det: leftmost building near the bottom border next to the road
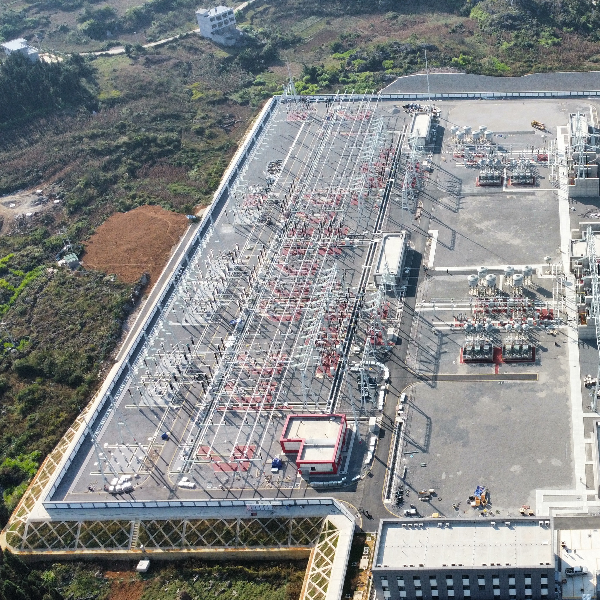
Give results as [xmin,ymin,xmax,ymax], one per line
[373,517,555,600]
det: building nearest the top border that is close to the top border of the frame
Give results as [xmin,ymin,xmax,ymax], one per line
[192,8,235,42]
